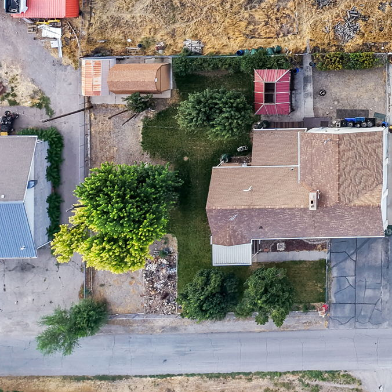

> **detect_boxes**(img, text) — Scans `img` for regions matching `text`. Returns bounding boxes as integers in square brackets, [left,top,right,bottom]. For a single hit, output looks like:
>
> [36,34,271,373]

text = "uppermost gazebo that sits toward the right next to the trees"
[254,67,296,116]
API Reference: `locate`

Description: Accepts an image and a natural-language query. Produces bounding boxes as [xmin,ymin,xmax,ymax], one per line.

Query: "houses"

[206,124,392,267]
[0,135,52,260]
